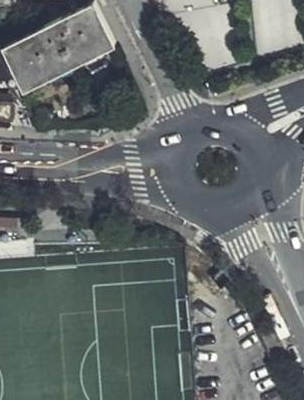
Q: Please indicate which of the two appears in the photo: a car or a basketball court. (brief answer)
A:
car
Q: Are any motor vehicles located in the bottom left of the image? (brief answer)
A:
No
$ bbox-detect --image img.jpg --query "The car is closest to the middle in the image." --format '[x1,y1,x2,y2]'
[160,133,181,145]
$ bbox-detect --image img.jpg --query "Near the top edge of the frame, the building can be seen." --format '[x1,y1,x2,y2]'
[0,0,118,92]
